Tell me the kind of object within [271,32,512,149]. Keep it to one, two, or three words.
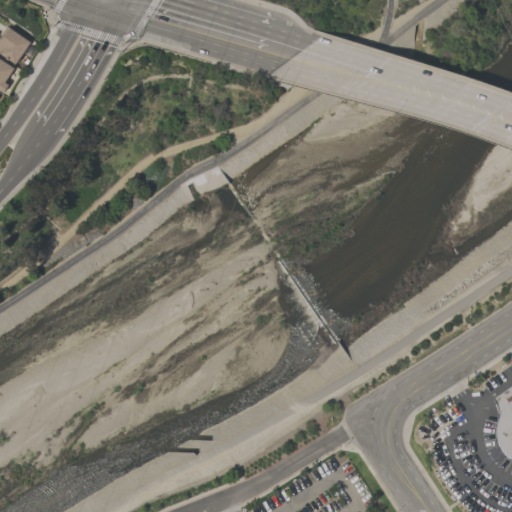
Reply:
bridge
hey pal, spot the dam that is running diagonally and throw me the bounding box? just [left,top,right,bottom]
[220,167,352,359]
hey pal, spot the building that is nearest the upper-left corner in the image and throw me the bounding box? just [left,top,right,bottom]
[0,26,29,64]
